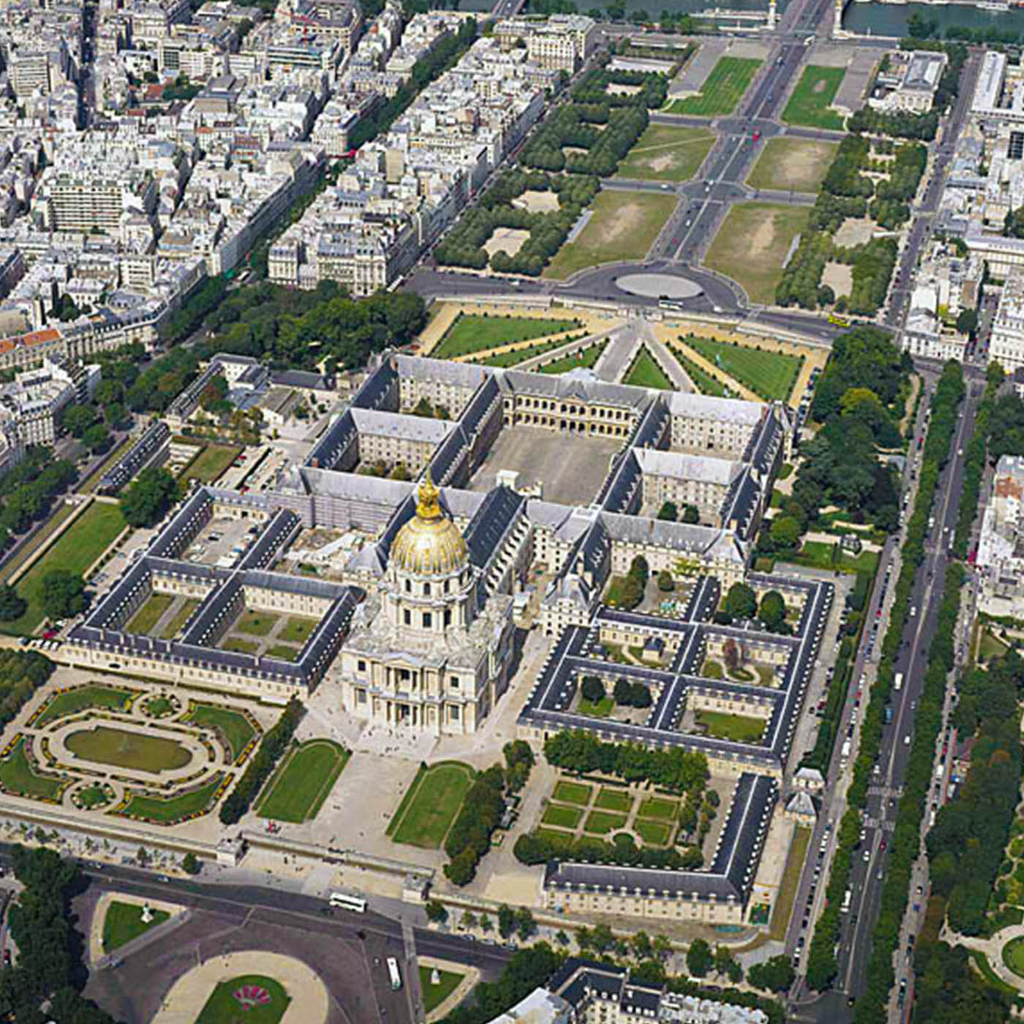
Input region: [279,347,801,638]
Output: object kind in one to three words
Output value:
building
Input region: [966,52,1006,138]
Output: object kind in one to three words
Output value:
house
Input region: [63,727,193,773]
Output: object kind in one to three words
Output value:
pond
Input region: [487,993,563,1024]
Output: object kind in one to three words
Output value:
house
